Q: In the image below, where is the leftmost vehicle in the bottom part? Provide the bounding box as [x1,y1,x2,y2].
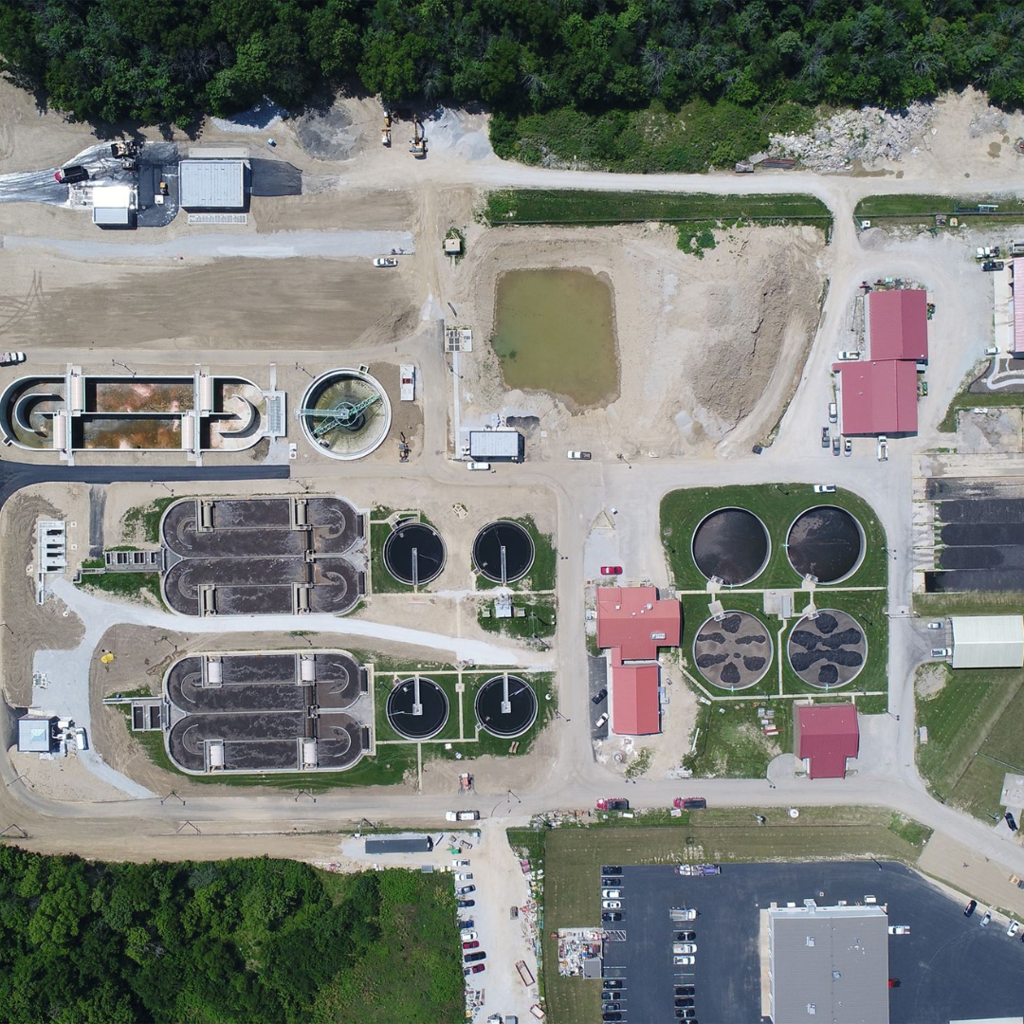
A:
[75,729,88,751]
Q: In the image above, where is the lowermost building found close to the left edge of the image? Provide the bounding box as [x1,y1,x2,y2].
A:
[18,717,57,752]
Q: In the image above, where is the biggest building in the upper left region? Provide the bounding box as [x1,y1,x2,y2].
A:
[180,161,249,212]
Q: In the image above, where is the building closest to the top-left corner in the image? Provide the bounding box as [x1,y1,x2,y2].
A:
[89,186,138,228]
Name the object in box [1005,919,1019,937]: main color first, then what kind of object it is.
white car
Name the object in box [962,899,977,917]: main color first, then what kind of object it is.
black car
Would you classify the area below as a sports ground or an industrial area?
industrial area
